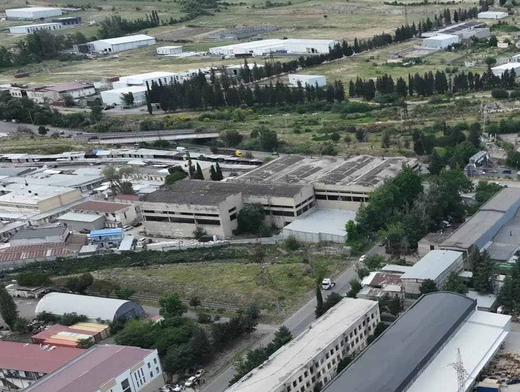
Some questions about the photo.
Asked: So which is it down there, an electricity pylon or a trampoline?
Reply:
electricity pylon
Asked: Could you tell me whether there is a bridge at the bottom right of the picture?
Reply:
No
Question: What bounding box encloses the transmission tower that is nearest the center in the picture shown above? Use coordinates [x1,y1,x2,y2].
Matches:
[240,212,273,285]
